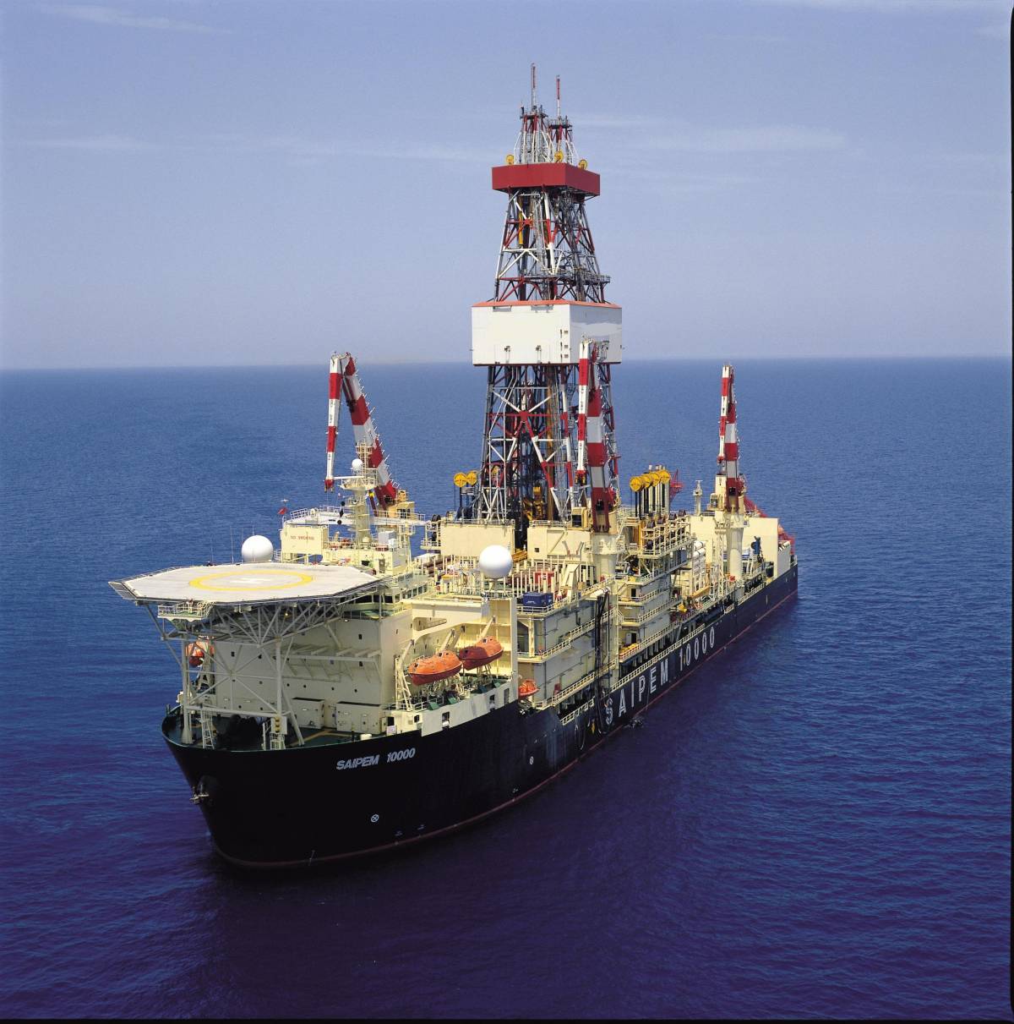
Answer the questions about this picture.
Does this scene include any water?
Yes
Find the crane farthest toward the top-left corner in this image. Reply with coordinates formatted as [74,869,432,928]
[324,344,431,549]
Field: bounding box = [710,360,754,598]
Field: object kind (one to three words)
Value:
crane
